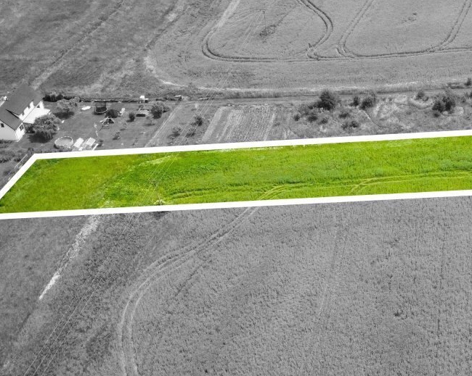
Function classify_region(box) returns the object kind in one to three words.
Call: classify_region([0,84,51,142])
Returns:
house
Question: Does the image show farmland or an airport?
farmland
